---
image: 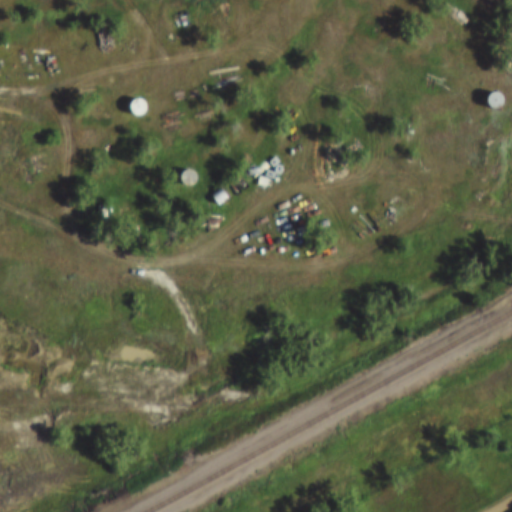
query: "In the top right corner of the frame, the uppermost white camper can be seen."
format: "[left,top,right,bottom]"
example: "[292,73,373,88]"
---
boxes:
[452,8,468,24]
